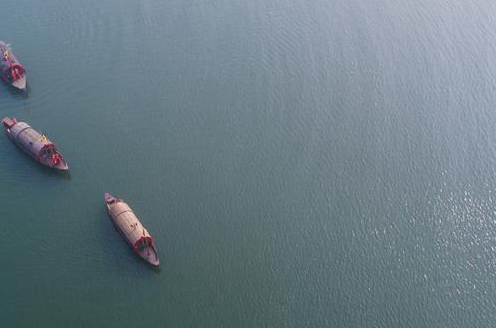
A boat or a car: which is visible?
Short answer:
boat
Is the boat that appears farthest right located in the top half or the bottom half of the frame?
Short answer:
bottom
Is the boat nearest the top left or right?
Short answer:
left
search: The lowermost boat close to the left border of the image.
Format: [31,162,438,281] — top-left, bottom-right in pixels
[0,116,71,176]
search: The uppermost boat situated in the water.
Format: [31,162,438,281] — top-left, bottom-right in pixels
[0,46,29,95]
